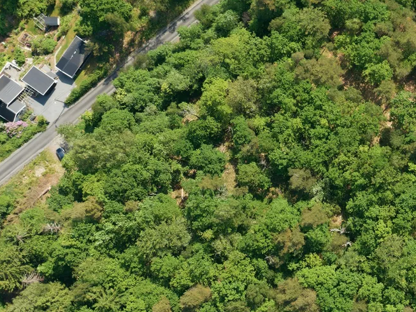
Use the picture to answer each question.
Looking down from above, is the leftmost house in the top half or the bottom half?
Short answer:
top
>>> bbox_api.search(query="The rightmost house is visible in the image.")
[55,35,94,78]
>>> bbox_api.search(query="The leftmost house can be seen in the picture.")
[0,74,31,122]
